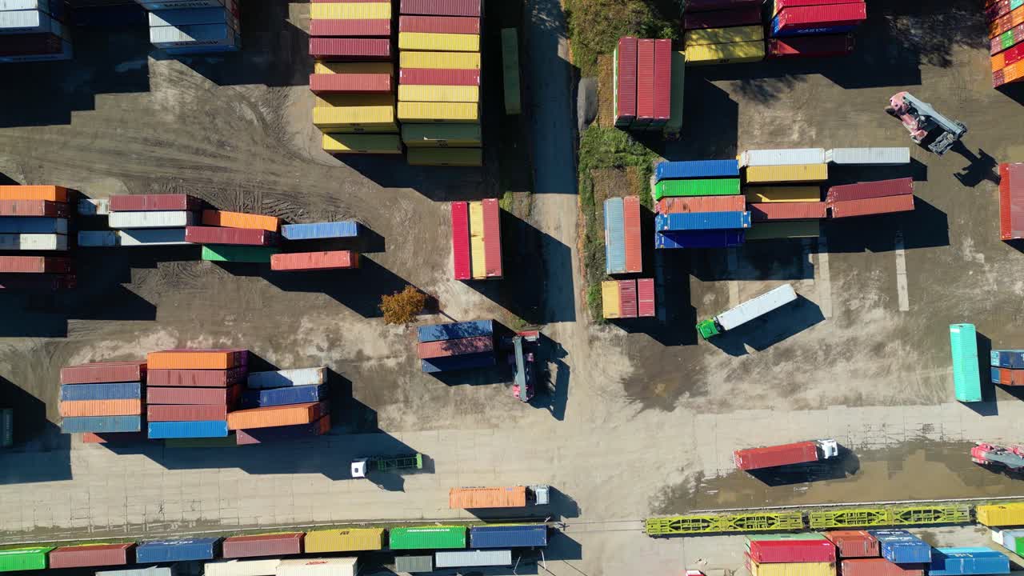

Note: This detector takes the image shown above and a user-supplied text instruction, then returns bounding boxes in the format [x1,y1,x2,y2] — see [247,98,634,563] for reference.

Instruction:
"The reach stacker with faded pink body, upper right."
[881,94,973,156]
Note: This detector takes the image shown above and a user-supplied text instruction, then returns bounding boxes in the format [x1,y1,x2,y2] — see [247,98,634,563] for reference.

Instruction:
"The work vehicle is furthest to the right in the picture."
[964,440,1024,482]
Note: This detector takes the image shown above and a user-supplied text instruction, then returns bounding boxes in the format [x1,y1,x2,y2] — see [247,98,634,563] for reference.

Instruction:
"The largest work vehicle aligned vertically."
[495,321,536,404]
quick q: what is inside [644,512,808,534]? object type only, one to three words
rail car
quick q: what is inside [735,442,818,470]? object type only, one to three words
shipping container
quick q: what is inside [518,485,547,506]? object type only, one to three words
truck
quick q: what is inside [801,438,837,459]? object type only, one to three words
truck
